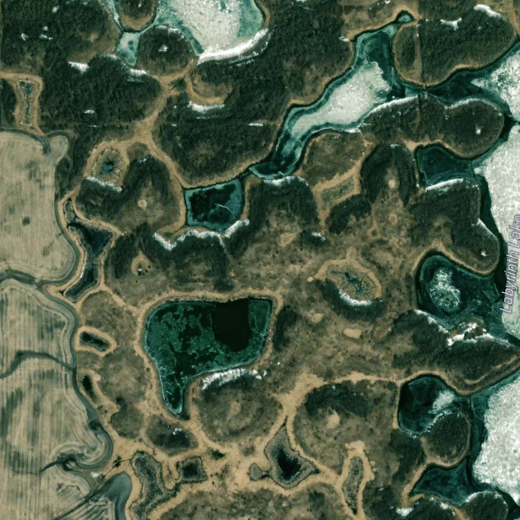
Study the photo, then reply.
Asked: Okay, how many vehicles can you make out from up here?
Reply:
0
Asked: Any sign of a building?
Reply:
No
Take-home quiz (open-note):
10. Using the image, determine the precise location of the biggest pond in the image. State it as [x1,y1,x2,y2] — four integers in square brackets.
[144,298,272,415]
